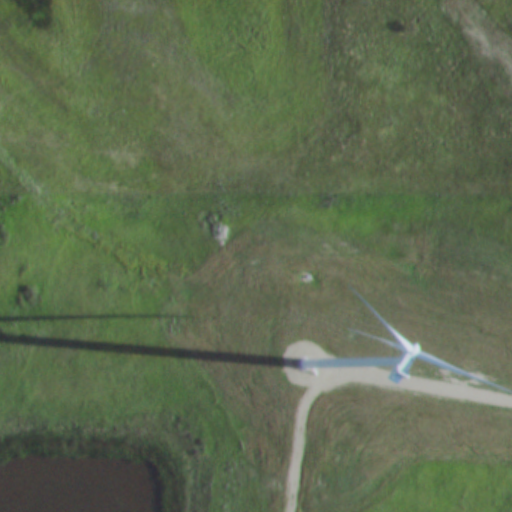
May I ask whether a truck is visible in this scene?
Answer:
No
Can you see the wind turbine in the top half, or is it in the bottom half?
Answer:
bottom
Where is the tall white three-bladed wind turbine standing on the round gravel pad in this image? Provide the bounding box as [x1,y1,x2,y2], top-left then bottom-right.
[300,284,512,390]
